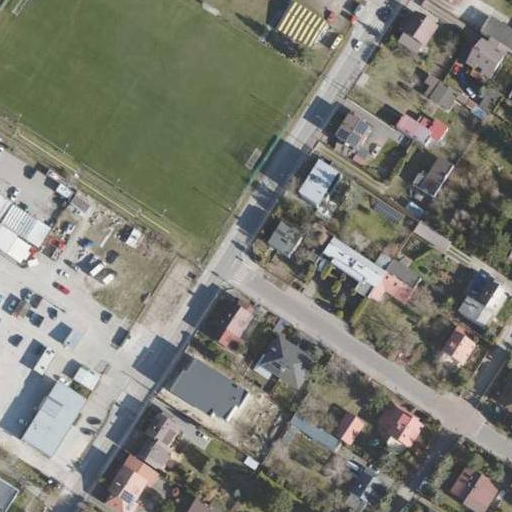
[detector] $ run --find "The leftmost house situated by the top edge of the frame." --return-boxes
[398,13,437,58]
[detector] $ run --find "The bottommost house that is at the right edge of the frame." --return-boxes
[450,468,498,512]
